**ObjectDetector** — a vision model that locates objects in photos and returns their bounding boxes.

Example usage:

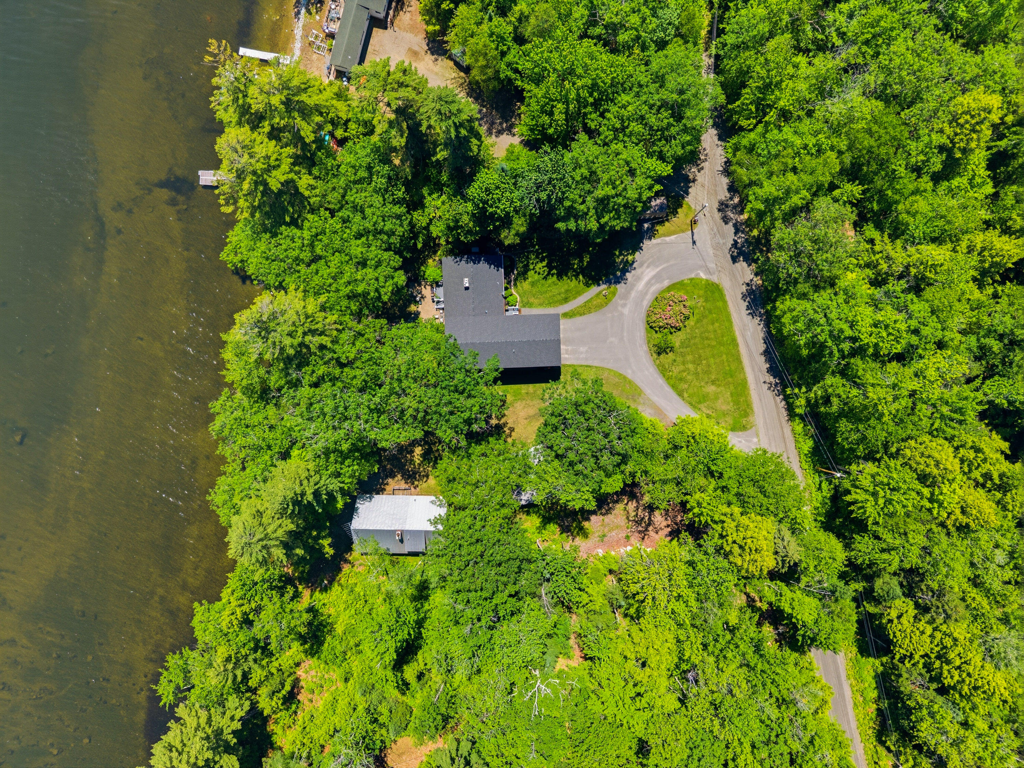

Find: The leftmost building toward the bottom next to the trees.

[351,495,447,554]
